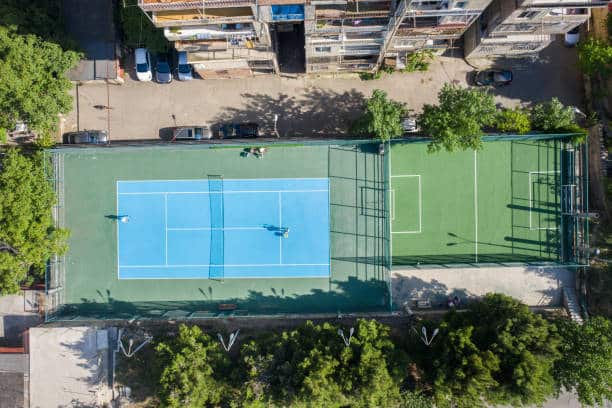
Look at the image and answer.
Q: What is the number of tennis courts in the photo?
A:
1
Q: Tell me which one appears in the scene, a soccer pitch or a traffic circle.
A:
soccer pitch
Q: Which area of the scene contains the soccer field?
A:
right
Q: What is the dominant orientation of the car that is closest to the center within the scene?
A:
from side to side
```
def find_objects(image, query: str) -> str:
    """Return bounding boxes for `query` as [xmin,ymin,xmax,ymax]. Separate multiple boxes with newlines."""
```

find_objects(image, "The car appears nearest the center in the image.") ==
[218,121,259,141]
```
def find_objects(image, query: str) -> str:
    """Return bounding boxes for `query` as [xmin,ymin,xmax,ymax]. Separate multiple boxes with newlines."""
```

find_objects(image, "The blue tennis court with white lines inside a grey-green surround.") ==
[65,145,385,315]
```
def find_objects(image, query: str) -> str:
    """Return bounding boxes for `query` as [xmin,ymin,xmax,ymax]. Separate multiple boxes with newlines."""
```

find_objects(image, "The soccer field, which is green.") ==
[388,140,563,263]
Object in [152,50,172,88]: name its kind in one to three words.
car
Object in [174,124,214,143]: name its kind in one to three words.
car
